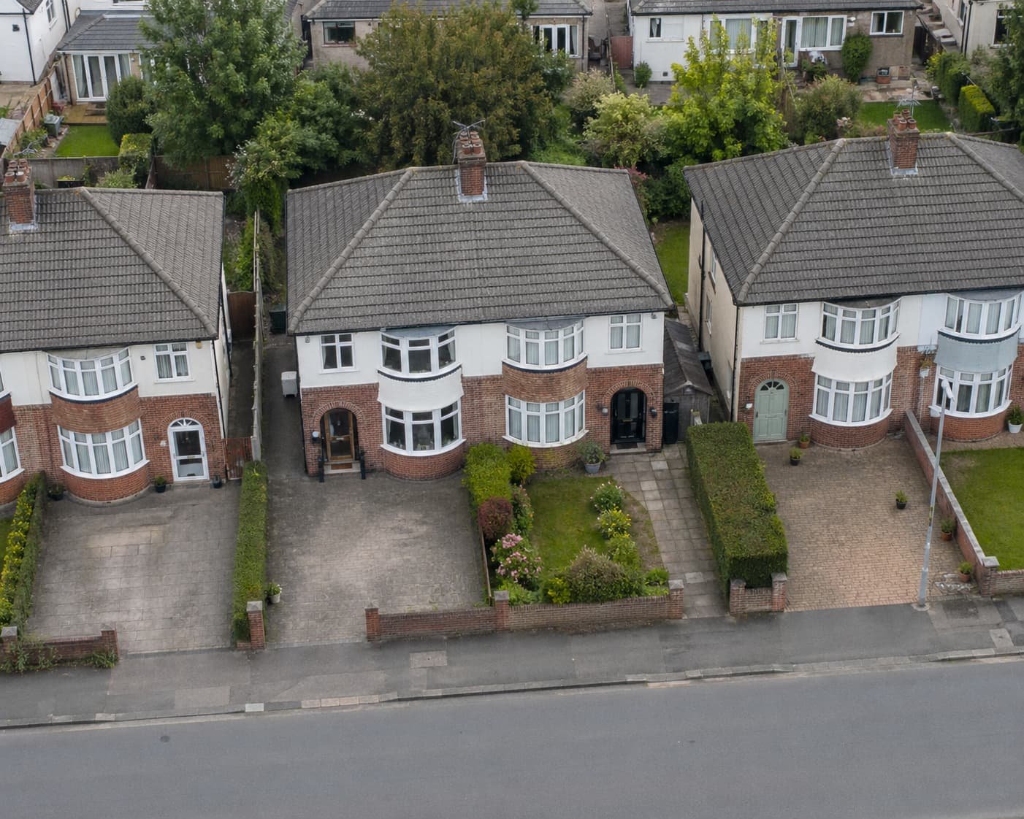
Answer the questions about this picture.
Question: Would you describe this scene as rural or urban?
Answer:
urban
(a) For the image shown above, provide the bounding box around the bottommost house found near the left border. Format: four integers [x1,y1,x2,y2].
[0,158,229,504]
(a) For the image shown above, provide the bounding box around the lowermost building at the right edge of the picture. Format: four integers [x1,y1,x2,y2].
[685,105,1024,450]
